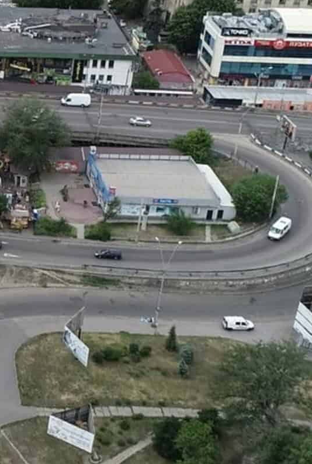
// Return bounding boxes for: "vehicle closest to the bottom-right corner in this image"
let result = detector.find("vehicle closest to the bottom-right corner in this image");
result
[223,313,252,330]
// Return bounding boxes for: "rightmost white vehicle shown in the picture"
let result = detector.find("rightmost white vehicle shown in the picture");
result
[271,217,289,236]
